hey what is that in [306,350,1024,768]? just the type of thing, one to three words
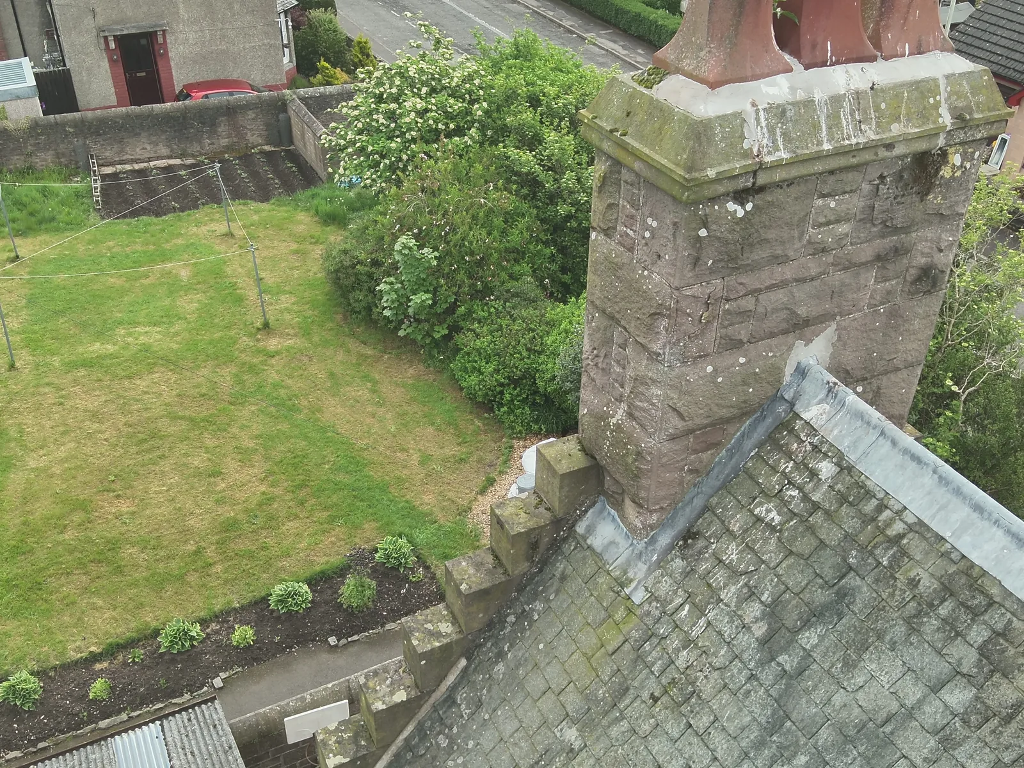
house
